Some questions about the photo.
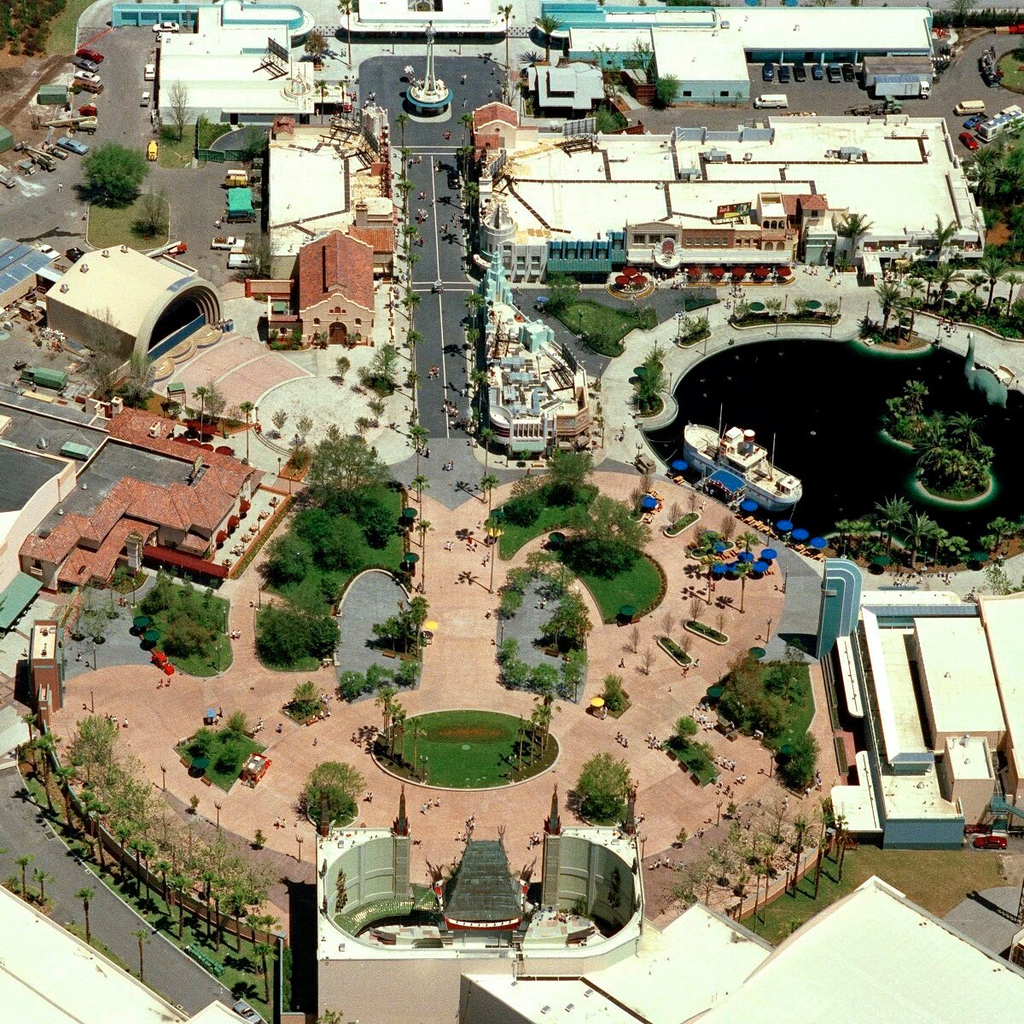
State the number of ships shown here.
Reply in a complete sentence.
The photo contains exactly 1 ship.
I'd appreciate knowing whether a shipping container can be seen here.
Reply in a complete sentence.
Yes, a shipping container appears in the view.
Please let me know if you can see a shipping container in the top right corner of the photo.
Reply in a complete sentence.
No, looking in the top right corner of the photo, there is no shipping container.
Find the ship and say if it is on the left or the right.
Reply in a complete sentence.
You can find the ship on the right side of the picture.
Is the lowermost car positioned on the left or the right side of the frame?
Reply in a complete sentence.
It is on the left.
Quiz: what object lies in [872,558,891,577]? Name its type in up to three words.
umbrella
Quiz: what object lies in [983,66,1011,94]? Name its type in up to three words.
work vehicle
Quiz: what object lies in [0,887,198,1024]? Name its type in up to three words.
warehouse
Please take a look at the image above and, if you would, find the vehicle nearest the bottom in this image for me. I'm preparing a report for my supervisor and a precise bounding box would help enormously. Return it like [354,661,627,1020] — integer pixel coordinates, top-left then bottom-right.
[231,993,266,1023]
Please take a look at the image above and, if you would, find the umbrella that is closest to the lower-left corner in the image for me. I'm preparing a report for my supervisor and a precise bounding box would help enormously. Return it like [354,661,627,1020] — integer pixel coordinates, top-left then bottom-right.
[189,758,210,779]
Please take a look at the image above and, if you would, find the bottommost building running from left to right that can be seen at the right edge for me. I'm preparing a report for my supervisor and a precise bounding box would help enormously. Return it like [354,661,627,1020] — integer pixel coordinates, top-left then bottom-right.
[702,877,1024,1024]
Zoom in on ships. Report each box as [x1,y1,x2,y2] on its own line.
[684,391,805,505]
